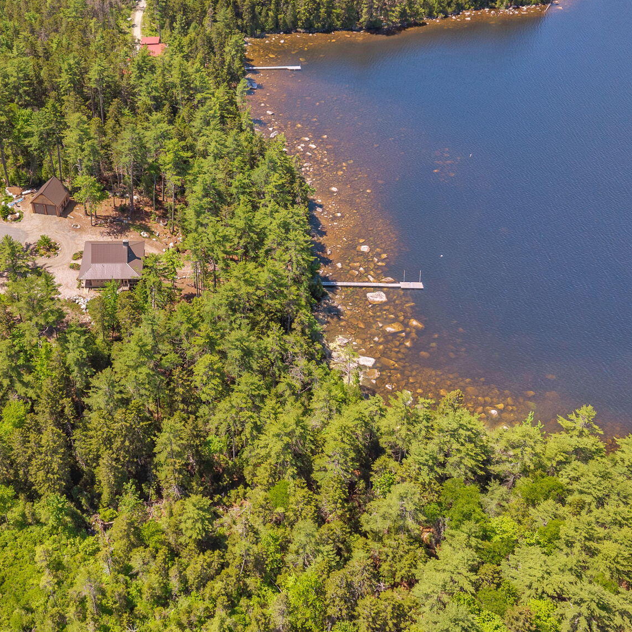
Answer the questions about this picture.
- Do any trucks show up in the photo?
No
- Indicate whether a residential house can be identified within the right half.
No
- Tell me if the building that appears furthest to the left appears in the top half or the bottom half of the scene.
top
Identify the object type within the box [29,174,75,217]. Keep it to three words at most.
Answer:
building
